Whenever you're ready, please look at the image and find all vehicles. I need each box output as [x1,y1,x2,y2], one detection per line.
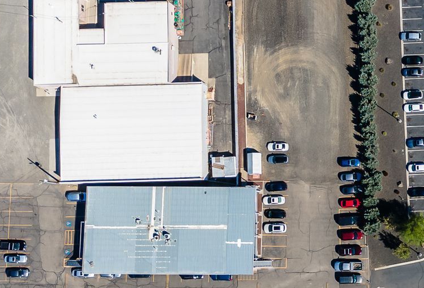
[403,102,424,113]
[401,54,423,65]
[406,138,424,147]
[128,274,152,280]
[402,90,424,100]
[340,197,360,208]
[401,66,423,77]
[0,239,27,251]
[181,274,205,280]
[334,261,362,272]
[340,184,363,194]
[99,274,122,280]
[263,195,286,206]
[4,254,27,266]
[336,214,362,226]
[65,191,85,201]
[264,209,287,219]
[5,267,30,279]
[339,273,363,286]
[340,156,361,167]
[266,153,289,165]
[264,222,286,233]
[339,171,362,181]
[336,245,364,256]
[400,31,422,41]
[266,140,289,152]
[341,229,363,241]
[407,162,424,173]
[265,180,287,192]
[72,268,95,279]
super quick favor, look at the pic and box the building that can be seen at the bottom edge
[82,187,259,274]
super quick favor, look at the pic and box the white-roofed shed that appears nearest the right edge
[248,152,264,174]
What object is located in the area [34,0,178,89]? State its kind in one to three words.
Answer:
building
